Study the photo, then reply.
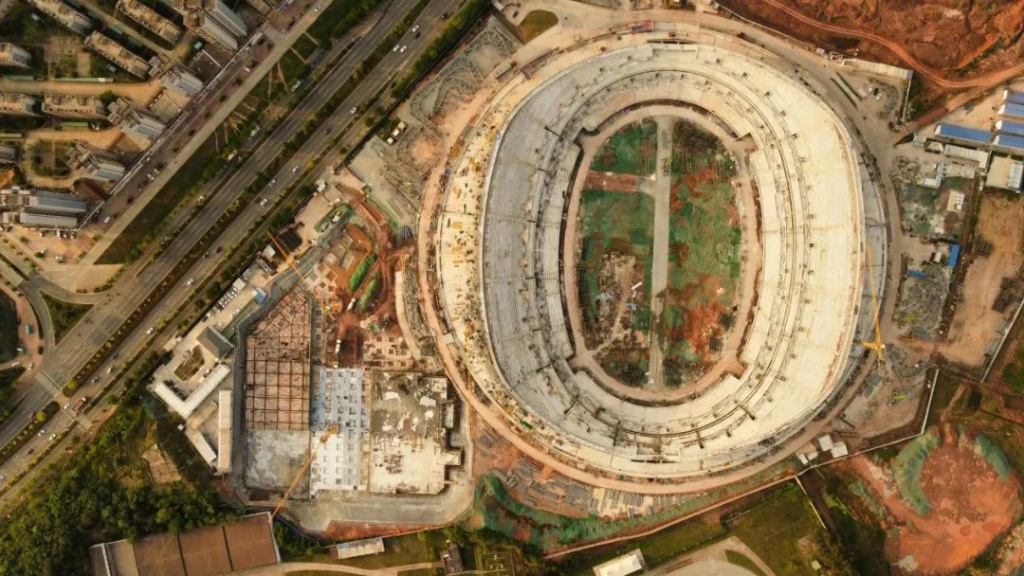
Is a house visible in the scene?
Yes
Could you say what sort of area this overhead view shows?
sports ground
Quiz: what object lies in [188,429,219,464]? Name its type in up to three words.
house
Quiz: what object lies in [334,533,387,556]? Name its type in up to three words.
shed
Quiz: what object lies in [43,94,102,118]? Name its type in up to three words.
building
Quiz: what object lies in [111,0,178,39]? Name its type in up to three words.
building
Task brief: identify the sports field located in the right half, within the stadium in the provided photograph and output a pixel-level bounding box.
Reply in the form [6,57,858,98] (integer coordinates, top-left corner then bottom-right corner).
[578,114,744,391]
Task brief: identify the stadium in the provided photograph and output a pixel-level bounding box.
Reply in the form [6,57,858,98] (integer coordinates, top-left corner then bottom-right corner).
[440,22,887,477]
